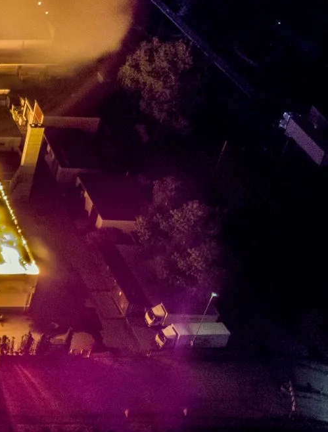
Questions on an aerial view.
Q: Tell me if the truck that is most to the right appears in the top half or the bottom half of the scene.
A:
top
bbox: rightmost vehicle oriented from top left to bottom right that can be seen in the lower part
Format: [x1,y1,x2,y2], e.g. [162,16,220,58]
[68,326,97,362]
